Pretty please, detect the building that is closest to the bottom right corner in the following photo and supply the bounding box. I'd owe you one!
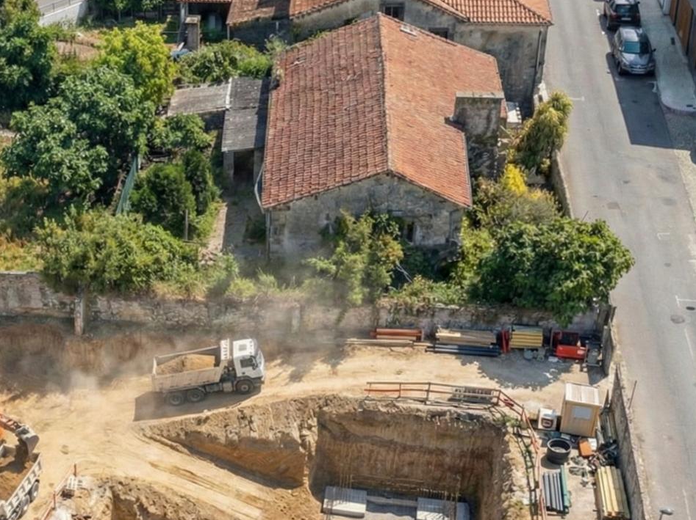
[560,378,604,436]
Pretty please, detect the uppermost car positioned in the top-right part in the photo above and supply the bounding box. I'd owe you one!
[602,0,642,25]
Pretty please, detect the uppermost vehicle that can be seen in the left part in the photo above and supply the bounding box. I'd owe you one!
[145,340,268,411]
